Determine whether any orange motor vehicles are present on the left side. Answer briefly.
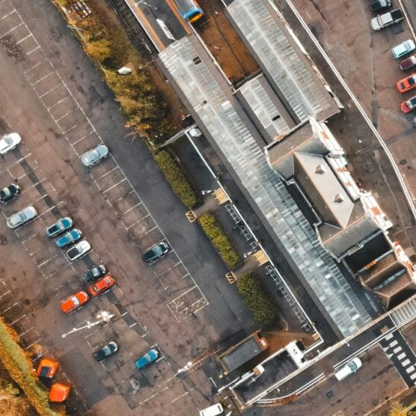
Yes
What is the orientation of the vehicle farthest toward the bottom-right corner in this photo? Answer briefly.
at an angle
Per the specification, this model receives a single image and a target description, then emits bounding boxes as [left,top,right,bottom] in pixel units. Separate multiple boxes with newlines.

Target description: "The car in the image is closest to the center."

[140,239,172,264]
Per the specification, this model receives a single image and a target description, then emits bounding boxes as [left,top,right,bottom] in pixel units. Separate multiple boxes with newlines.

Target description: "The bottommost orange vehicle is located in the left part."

[49,378,73,404]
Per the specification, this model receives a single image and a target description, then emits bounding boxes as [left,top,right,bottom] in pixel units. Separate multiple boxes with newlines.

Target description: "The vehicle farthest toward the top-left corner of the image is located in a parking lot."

[0,132,26,155]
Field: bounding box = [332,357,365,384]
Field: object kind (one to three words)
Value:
vehicle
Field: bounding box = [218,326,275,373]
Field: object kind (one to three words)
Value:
shed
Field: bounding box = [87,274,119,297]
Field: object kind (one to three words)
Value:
car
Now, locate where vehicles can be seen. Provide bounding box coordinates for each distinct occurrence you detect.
[399,95,416,114]
[195,398,231,416]
[132,345,164,371]
[389,40,416,60]
[4,204,41,230]
[396,73,416,94]
[58,289,92,316]
[80,143,113,169]
[63,239,94,263]
[369,9,405,32]
[38,355,61,380]
[398,53,416,72]
[44,215,77,238]
[332,357,365,384]
[54,227,86,249]
[0,132,26,155]
[91,340,122,362]
[368,0,394,14]
[87,274,119,297]
[81,263,110,284]
[140,239,172,264]
[49,378,73,404]
[0,183,24,204]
